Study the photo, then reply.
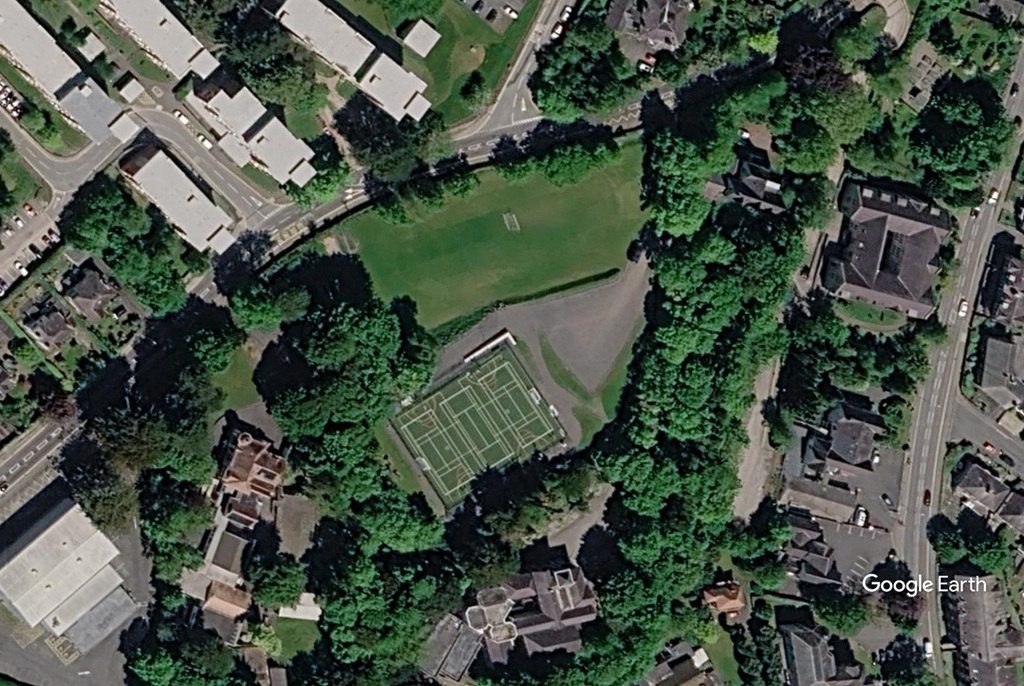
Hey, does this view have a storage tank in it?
No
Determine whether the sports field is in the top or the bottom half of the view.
top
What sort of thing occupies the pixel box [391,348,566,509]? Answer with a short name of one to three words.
sports court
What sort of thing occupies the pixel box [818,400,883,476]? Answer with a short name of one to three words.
house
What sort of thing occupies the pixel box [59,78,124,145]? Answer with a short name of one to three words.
building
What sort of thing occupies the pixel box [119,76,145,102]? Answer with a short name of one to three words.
shed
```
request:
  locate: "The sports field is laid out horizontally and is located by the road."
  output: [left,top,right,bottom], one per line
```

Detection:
[316,138,651,338]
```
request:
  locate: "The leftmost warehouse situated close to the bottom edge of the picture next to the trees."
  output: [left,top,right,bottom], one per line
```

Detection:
[0,502,137,654]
